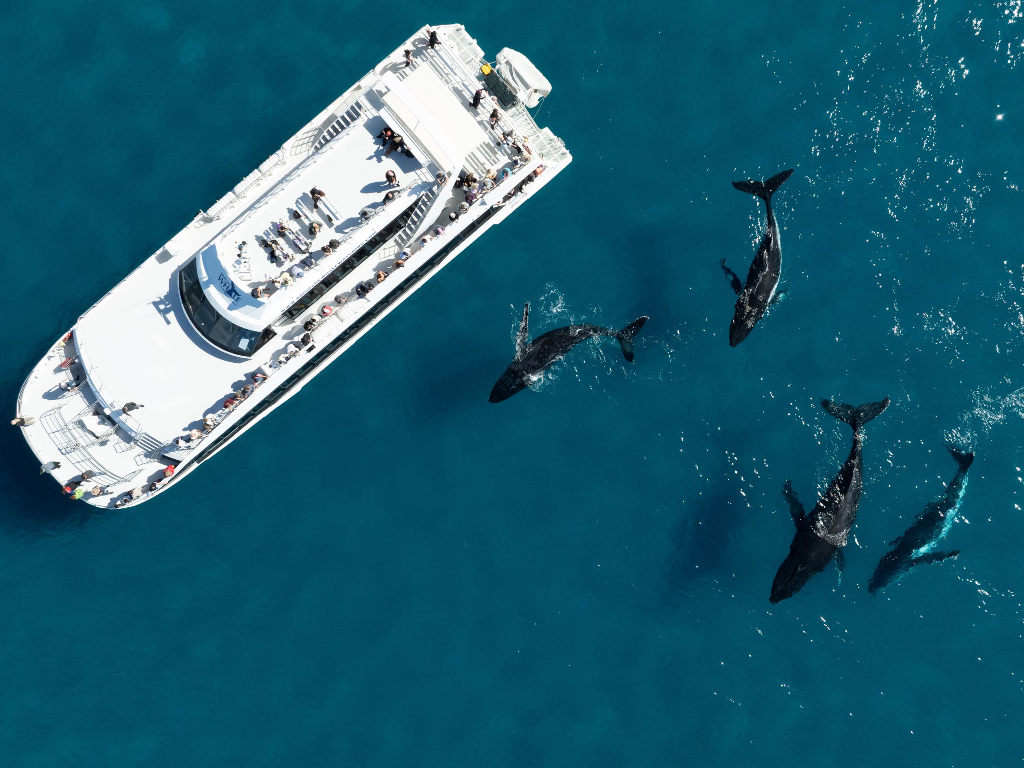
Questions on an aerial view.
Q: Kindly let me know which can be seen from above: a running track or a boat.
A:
boat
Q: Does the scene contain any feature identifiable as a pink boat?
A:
No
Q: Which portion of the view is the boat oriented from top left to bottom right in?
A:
top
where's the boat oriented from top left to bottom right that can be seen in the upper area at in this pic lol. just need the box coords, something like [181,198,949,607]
[498,46,550,109]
